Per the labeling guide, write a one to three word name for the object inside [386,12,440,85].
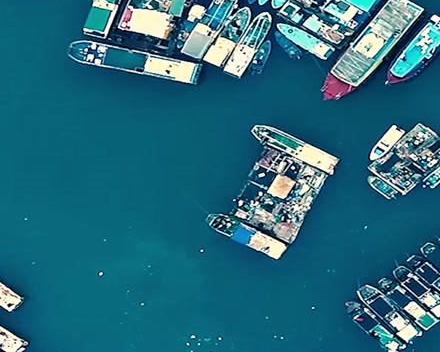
boat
